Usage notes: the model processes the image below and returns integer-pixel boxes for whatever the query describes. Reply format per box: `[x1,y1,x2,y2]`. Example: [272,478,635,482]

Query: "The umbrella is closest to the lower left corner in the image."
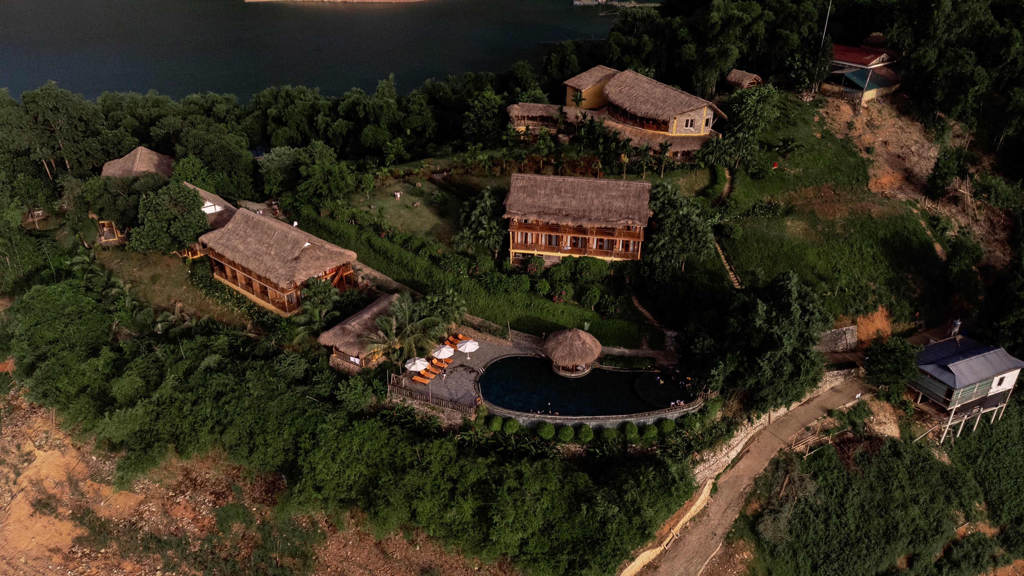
[405,354,428,377]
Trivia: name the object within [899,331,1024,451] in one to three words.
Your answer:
house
